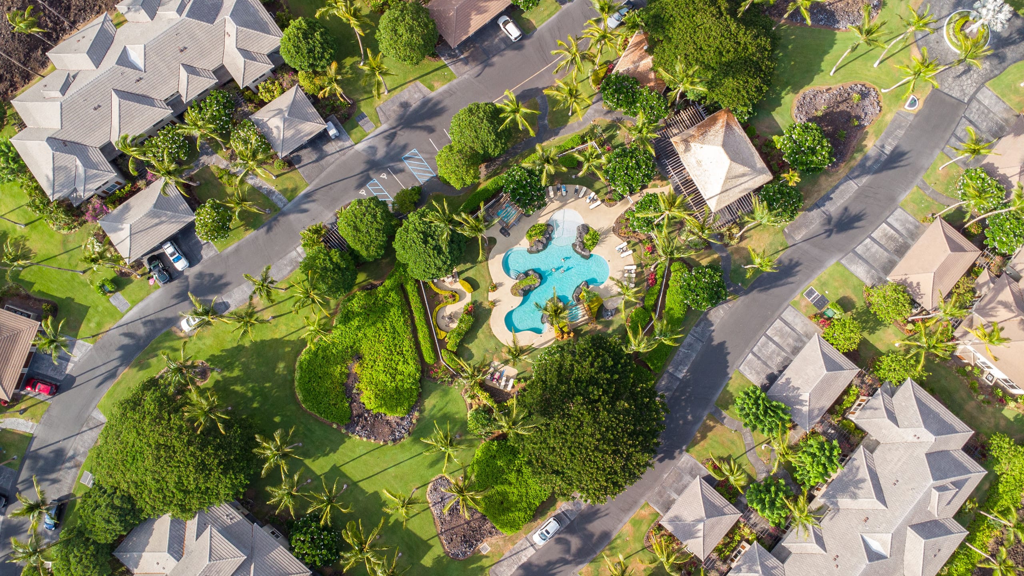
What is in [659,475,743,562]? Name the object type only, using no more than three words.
building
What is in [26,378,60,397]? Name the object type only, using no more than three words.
car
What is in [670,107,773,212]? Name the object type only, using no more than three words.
building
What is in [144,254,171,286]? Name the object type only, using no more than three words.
car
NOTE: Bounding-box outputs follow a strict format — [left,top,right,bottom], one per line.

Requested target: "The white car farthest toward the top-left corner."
[161,240,188,272]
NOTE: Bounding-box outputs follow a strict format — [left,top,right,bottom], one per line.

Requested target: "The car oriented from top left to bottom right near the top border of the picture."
[498,13,523,44]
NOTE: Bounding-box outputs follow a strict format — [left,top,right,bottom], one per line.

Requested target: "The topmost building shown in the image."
[424,0,515,48]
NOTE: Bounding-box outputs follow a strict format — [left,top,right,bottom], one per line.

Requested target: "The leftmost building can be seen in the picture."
[0,306,48,402]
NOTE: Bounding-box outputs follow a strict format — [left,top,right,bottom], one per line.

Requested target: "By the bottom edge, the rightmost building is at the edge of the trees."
[724,378,988,576]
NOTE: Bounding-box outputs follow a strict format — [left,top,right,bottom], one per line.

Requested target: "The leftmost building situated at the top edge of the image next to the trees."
[8,0,282,207]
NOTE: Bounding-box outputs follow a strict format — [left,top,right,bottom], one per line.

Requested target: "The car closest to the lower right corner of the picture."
[533,516,562,545]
